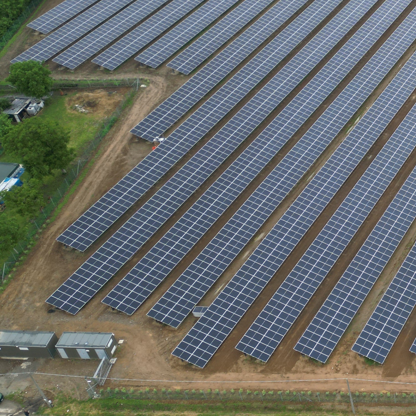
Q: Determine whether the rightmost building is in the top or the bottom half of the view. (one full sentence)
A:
Seen from above, the rightmost building lies in the bottom half of the view.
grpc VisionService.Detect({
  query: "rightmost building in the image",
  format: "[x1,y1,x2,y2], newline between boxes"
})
[55,332,119,360]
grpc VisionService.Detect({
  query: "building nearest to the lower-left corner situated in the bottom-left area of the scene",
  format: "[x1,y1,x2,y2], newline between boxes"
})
[0,330,58,359]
